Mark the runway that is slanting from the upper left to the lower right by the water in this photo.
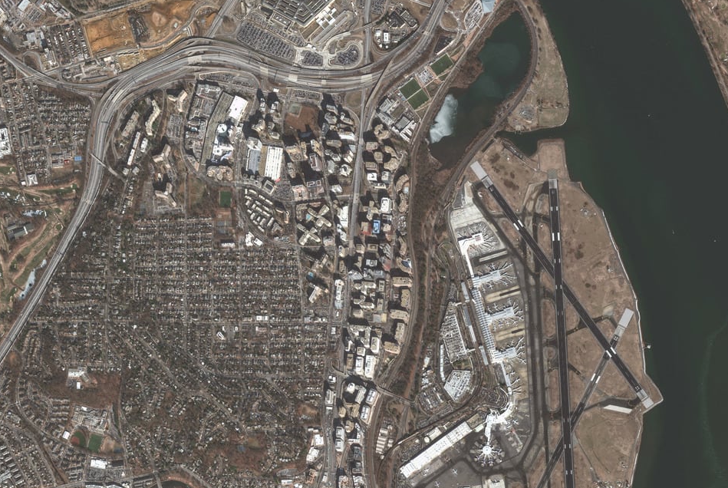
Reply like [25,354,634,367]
[474,163,652,407]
